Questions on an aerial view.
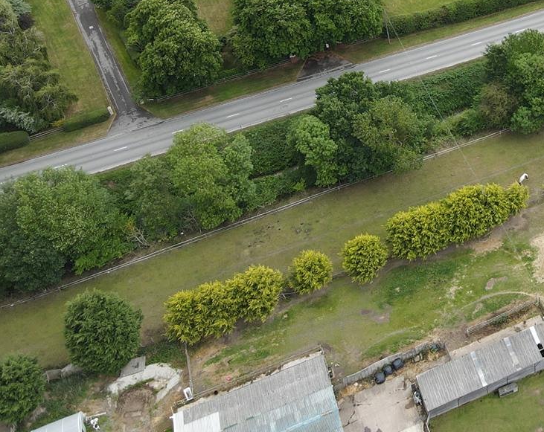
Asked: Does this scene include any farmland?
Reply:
Yes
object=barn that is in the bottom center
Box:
[169,358,344,432]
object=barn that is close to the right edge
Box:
[416,322,544,420]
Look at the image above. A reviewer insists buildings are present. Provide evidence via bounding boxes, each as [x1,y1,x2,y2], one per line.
[416,322,544,420]
[169,358,344,432]
[38,408,90,432]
